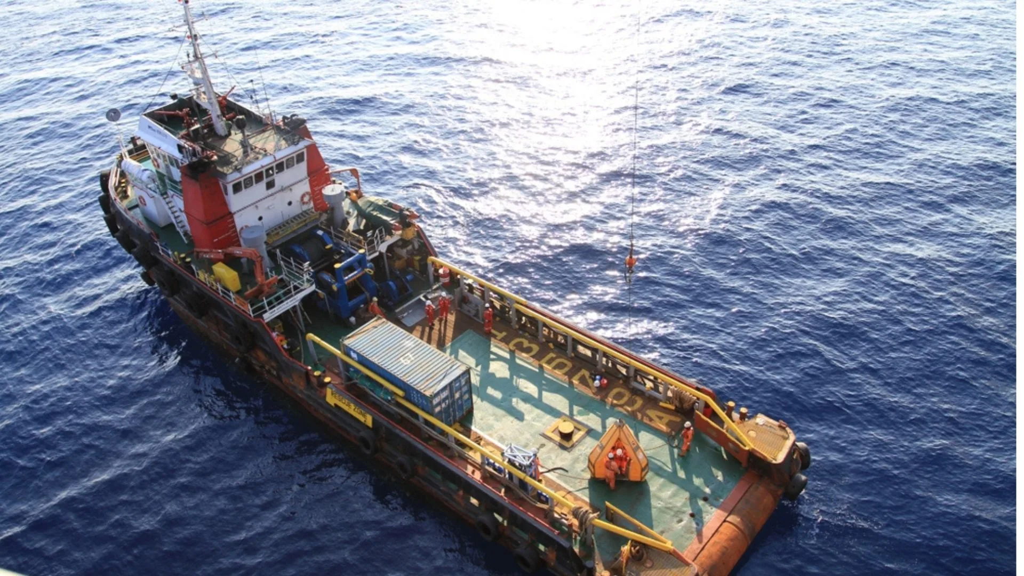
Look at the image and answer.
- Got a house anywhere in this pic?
No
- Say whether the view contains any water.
Yes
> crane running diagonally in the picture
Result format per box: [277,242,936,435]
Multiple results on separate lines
[195,238,295,301]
